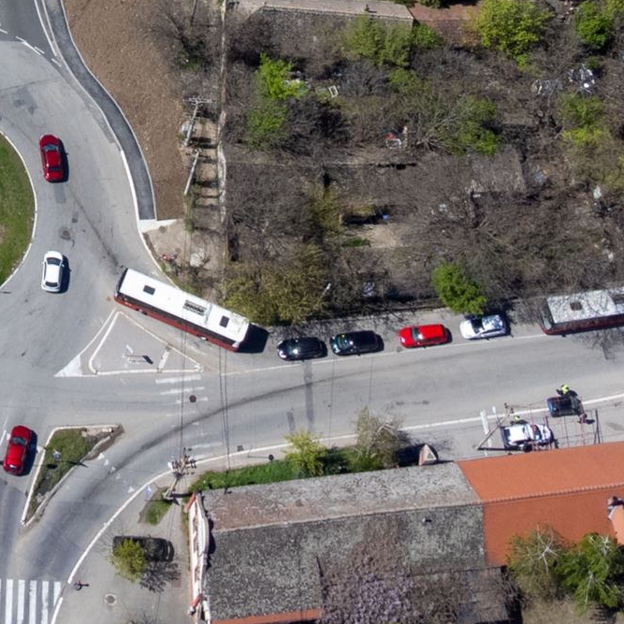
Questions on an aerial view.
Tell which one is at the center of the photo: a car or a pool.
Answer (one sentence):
The one visible at the center of the photo is a car.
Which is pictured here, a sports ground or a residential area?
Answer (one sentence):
This looks like a residential area.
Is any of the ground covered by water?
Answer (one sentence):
No, there's no water in this view.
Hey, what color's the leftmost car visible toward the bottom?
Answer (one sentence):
In this view, the leftmost car visible toward the bottom is red.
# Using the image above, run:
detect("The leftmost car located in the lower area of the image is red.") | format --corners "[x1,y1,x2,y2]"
[4,427,33,477]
